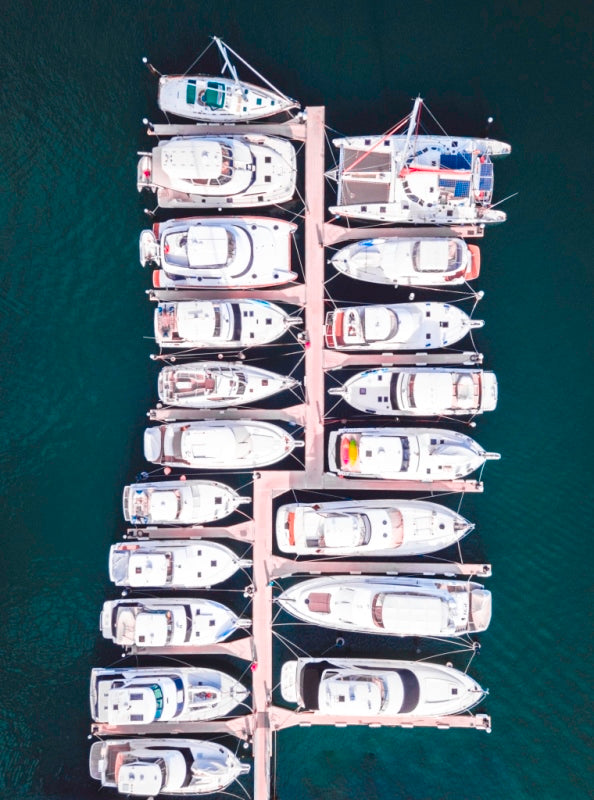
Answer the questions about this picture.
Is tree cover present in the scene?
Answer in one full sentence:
No, there's no tree cover in this view.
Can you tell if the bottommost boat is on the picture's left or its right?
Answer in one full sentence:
You can find the bottommost boat on the left side of the picture.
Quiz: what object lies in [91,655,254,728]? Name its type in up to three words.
boat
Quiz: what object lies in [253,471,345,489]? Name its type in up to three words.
pier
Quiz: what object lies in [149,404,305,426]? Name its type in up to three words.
pier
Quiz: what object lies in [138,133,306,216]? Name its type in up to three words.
boat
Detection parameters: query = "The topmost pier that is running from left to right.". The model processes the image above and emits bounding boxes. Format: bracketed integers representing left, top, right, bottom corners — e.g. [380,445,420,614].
[148,115,305,141]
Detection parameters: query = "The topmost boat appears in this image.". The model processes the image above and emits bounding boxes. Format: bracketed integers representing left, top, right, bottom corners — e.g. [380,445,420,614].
[148,32,304,125]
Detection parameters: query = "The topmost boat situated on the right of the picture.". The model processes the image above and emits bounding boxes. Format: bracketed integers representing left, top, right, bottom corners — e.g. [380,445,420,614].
[324,91,518,228]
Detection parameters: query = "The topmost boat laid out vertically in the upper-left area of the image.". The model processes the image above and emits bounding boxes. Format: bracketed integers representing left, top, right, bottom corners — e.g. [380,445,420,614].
[136,154,155,194]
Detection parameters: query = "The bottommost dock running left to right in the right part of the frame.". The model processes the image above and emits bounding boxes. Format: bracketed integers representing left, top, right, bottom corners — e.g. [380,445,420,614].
[272,706,491,731]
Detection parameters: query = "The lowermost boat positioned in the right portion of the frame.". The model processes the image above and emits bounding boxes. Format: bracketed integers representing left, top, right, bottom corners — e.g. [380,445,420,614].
[272,628,491,720]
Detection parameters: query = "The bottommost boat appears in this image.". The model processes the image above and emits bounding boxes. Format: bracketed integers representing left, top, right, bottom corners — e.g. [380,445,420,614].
[90,733,252,800]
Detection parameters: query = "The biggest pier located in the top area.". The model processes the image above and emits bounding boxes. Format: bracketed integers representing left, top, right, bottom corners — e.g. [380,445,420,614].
[305,106,325,471]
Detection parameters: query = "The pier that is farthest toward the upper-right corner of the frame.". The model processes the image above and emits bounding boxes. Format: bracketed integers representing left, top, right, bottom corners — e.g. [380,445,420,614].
[324,223,484,246]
